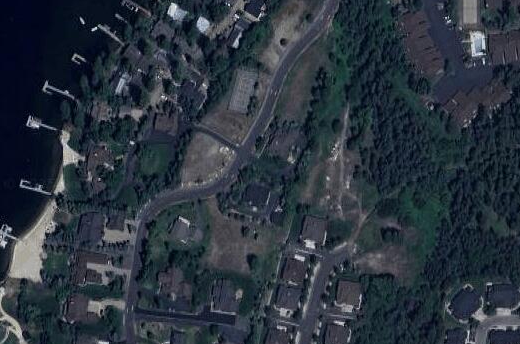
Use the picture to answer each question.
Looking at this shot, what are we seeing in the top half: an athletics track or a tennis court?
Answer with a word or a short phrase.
tennis court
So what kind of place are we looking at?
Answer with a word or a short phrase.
residential area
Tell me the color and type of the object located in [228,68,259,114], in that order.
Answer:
gray tennis court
